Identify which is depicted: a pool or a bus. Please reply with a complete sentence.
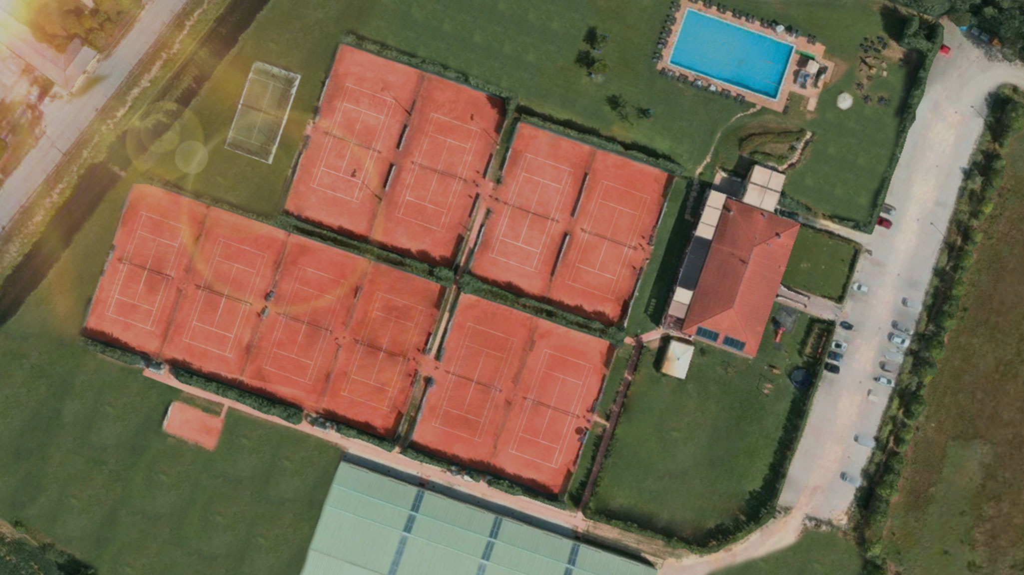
This aerial view contains a pool.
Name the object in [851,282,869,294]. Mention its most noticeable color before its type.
white vehicle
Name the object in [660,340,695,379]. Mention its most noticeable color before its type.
white gazebo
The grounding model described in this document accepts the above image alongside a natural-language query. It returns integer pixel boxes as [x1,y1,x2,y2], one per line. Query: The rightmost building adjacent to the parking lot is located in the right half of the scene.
[659,166,799,358]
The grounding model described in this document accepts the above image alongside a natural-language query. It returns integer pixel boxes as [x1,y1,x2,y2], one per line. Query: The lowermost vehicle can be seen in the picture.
[840,473,860,485]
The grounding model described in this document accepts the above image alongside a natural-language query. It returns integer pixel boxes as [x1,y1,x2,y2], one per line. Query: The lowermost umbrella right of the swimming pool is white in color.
[837,92,853,108]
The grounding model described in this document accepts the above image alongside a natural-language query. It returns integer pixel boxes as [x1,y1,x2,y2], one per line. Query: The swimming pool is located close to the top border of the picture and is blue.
[665,5,798,102]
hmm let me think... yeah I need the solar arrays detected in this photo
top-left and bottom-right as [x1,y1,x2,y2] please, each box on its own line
[723,336,746,351]
[697,326,719,341]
